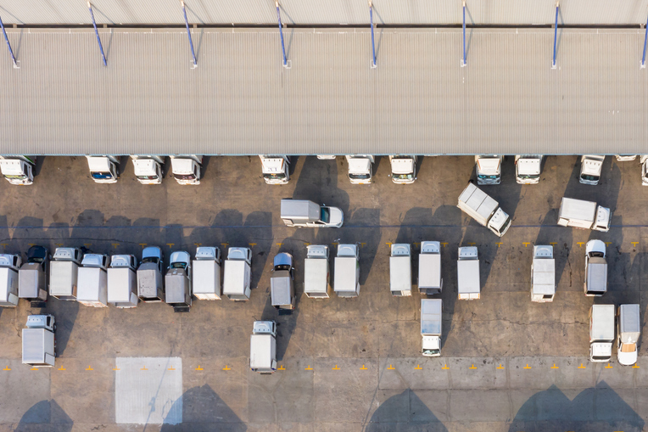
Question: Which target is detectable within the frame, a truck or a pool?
truck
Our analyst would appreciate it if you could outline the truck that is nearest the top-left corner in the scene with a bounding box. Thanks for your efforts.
[0,156,34,186]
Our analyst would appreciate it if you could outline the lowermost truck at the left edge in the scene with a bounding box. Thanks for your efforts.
[20,313,60,369]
